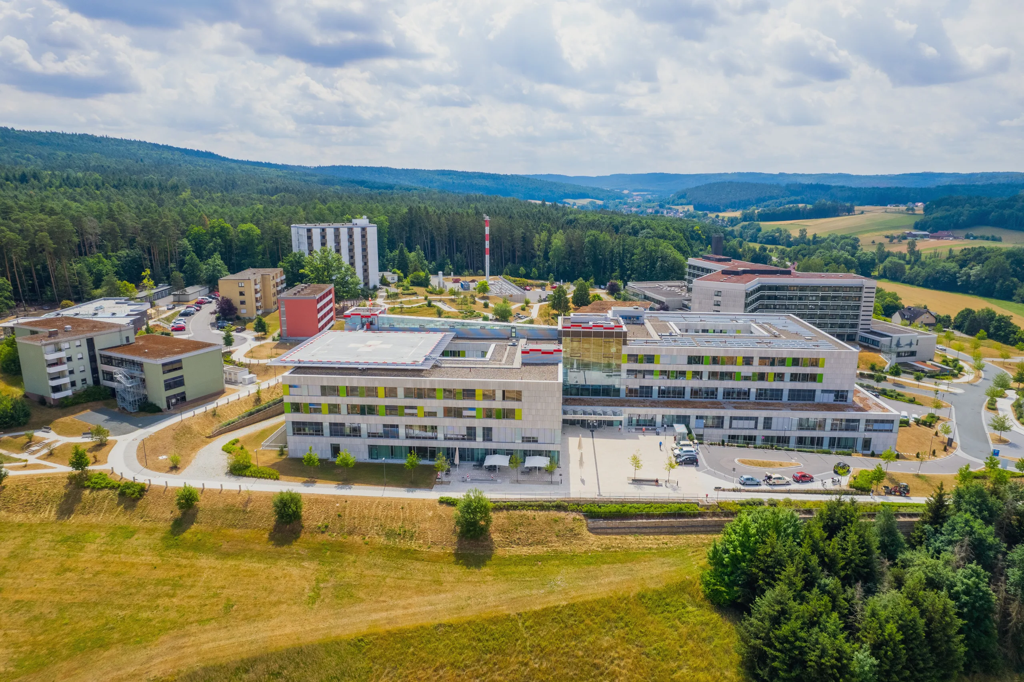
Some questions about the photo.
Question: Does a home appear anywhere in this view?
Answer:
Yes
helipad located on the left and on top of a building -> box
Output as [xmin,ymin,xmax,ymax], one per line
[266,330,456,374]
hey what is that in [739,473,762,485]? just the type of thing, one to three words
vehicle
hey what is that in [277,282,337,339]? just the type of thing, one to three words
house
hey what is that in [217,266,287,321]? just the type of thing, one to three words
house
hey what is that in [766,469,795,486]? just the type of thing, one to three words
car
